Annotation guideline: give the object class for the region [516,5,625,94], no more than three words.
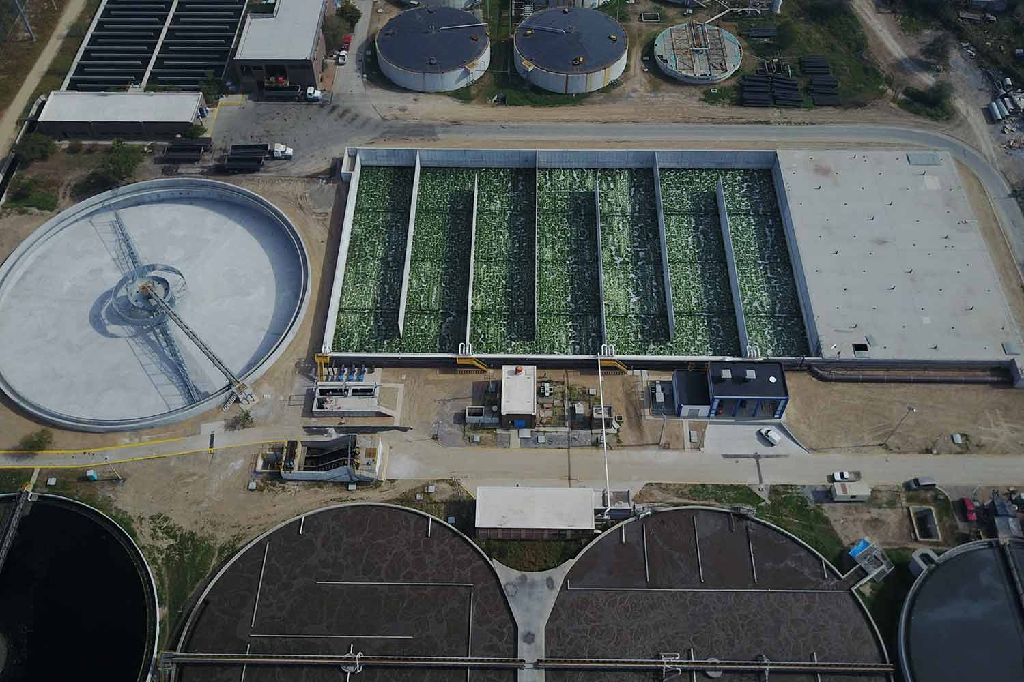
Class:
storage tank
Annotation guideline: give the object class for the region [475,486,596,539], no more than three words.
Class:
shed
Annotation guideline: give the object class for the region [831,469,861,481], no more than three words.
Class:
vehicle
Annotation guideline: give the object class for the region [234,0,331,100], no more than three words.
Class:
building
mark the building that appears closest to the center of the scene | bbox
[502,364,537,426]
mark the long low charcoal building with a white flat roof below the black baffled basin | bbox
[39,90,204,142]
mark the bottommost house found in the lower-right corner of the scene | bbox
[845,539,896,590]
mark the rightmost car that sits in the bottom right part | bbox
[959,497,977,521]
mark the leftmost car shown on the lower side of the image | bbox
[760,425,783,445]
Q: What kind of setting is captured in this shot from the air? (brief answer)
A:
industrial area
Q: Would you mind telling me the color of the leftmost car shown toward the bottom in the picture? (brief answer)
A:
white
